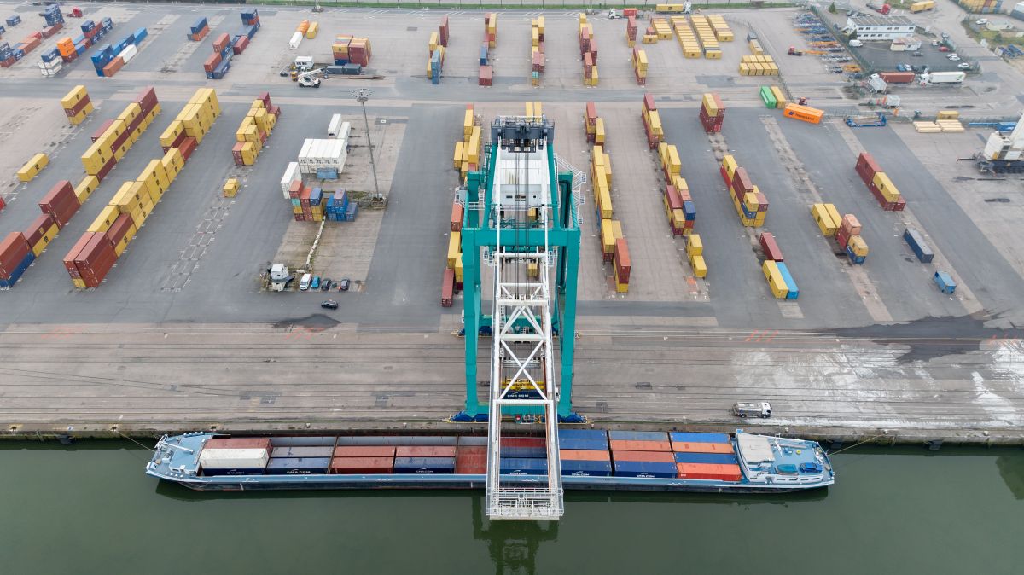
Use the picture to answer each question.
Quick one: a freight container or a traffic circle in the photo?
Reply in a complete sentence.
I can see a freight container in this picture.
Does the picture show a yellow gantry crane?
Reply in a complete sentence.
No, the scene contains no yellow gantry crane.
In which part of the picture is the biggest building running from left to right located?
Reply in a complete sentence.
You can find the biggest building running from left to right in the top right area of the picture.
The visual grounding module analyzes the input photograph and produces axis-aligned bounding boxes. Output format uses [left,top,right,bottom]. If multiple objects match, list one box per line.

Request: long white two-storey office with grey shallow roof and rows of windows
[845,14,921,40]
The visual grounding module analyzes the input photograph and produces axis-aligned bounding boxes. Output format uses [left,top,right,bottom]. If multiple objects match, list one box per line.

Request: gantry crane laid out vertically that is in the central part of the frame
[439,121,601,520]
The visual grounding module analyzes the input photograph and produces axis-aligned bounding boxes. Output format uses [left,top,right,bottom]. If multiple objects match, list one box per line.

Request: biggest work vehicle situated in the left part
[297,61,327,87]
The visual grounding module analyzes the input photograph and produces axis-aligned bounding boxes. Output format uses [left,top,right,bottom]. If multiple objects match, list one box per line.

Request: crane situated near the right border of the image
[960,130,1024,178]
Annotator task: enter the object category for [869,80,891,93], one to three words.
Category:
vehicle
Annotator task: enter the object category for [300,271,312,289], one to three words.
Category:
vehicle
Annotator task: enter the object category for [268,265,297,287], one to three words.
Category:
shed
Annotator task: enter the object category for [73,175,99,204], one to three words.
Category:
shipping container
